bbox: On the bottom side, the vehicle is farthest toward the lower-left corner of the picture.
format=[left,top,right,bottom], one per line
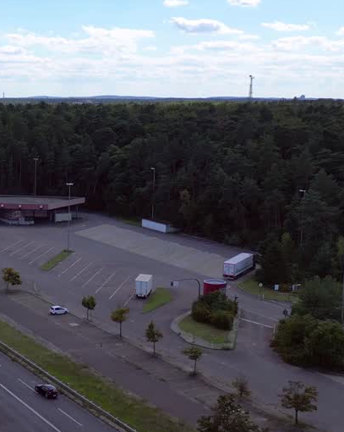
[34,382,60,398]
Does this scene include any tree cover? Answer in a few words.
Yes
